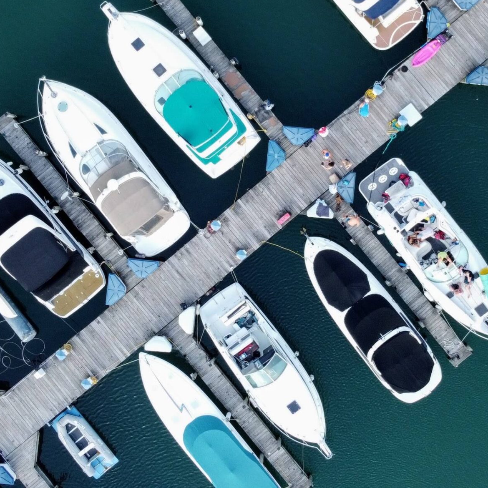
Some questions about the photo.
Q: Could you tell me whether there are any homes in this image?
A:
No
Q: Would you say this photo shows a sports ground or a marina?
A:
marina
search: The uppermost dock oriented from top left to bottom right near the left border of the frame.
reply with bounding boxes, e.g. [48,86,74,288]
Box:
[0,113,143,291]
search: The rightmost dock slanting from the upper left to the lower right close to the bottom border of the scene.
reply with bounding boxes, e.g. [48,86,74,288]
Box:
[162,317,320,488]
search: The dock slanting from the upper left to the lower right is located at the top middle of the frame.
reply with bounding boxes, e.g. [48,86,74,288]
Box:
[153,0,300,161]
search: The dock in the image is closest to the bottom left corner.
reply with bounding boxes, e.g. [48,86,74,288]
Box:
[6,431,56,488]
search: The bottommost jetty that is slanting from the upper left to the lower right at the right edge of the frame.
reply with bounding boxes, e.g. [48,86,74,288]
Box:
[319,192,472,368]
